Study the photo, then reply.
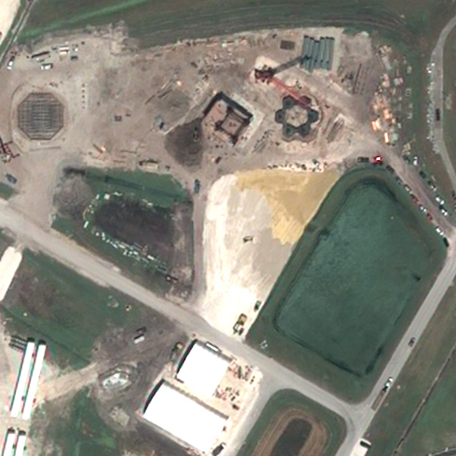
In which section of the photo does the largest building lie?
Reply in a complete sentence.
The largest building is located in the bottom region of the scene.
